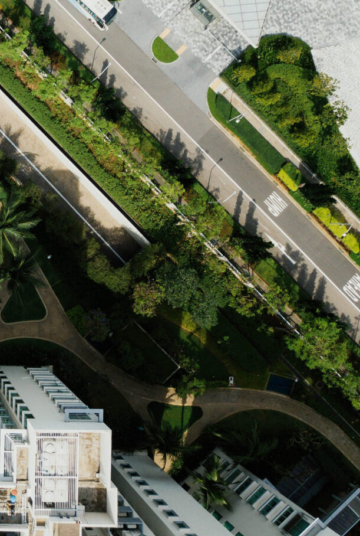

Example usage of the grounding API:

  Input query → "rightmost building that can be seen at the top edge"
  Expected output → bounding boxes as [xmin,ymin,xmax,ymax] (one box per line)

[206,0,271,48]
